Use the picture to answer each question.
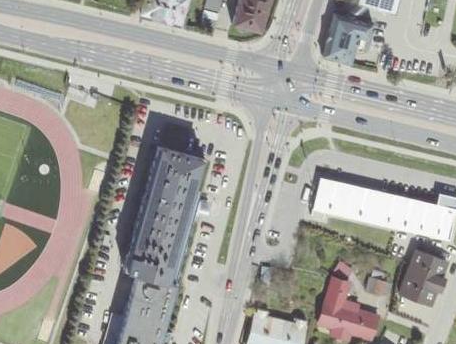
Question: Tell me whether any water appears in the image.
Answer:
No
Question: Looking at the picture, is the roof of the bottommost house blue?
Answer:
No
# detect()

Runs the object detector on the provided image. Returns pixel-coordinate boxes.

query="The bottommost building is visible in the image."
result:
[247,309,307,344]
